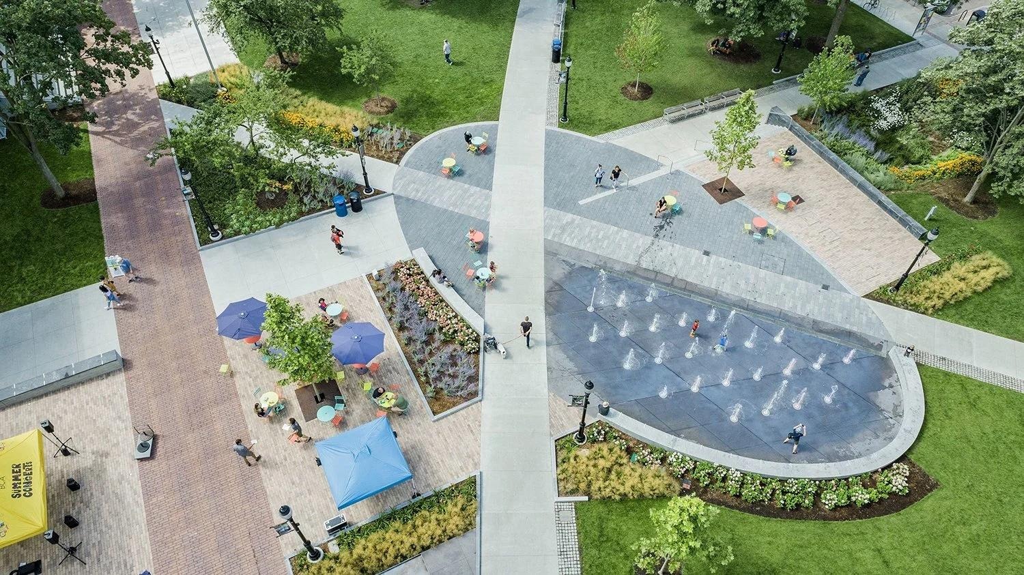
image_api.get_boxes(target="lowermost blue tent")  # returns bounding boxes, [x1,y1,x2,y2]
[315,417,423,535]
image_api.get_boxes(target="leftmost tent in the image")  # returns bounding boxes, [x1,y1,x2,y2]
[0,430,82,559]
